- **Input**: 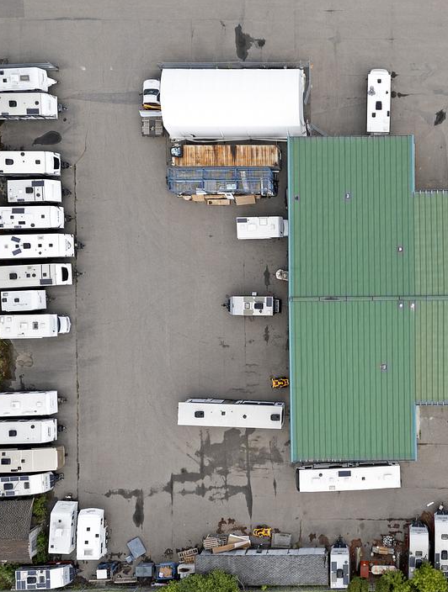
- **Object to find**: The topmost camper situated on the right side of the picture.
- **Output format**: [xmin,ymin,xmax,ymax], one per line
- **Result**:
[366,70,390,135]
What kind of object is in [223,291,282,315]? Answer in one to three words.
trailer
